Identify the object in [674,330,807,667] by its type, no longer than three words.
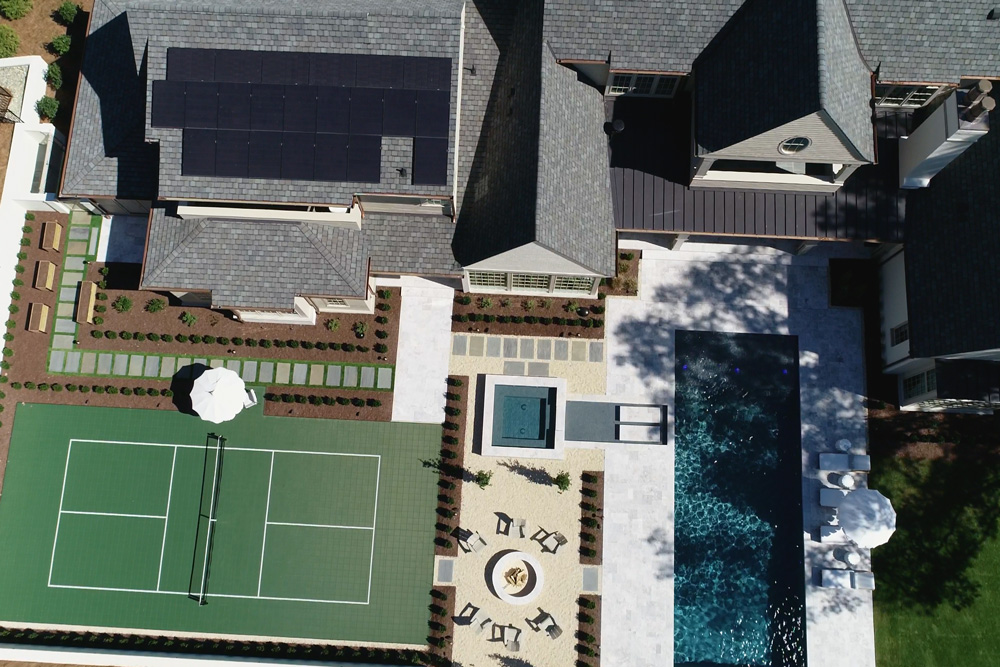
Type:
swimming pool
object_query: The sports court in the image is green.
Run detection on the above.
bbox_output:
[0,386,443,643]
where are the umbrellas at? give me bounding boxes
[835,488,897,551]
[192,367,250,424]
